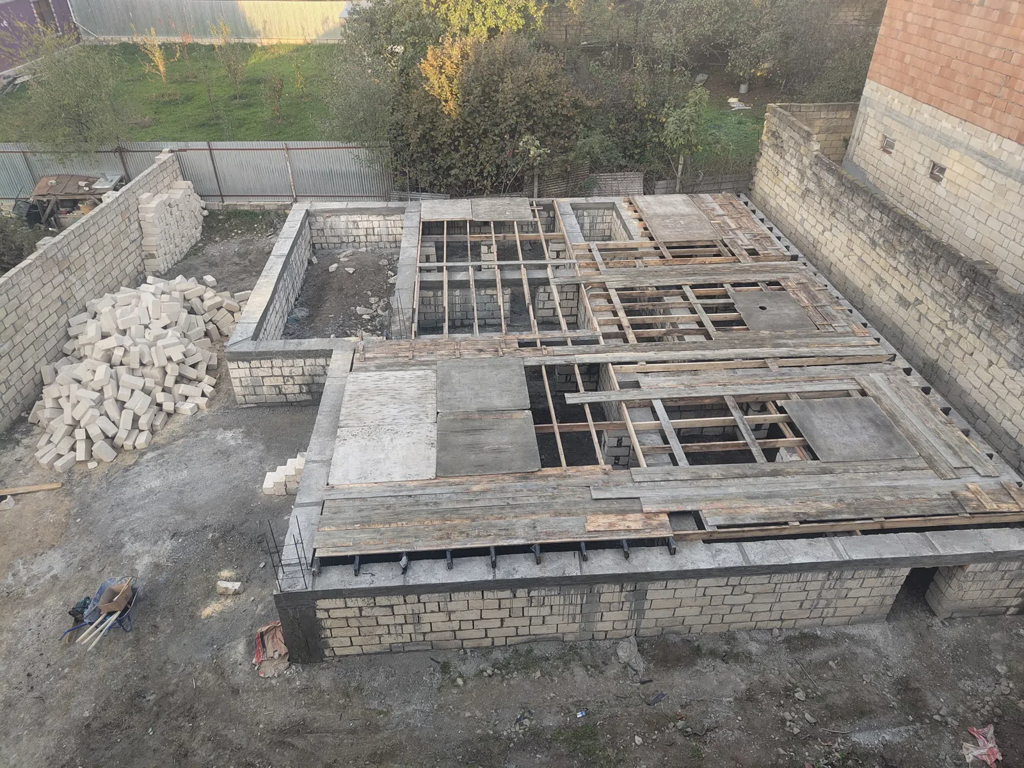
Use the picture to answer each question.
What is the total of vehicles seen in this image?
none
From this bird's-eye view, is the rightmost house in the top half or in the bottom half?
top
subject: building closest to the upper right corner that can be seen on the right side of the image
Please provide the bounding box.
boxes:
[849,0,1024,289]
